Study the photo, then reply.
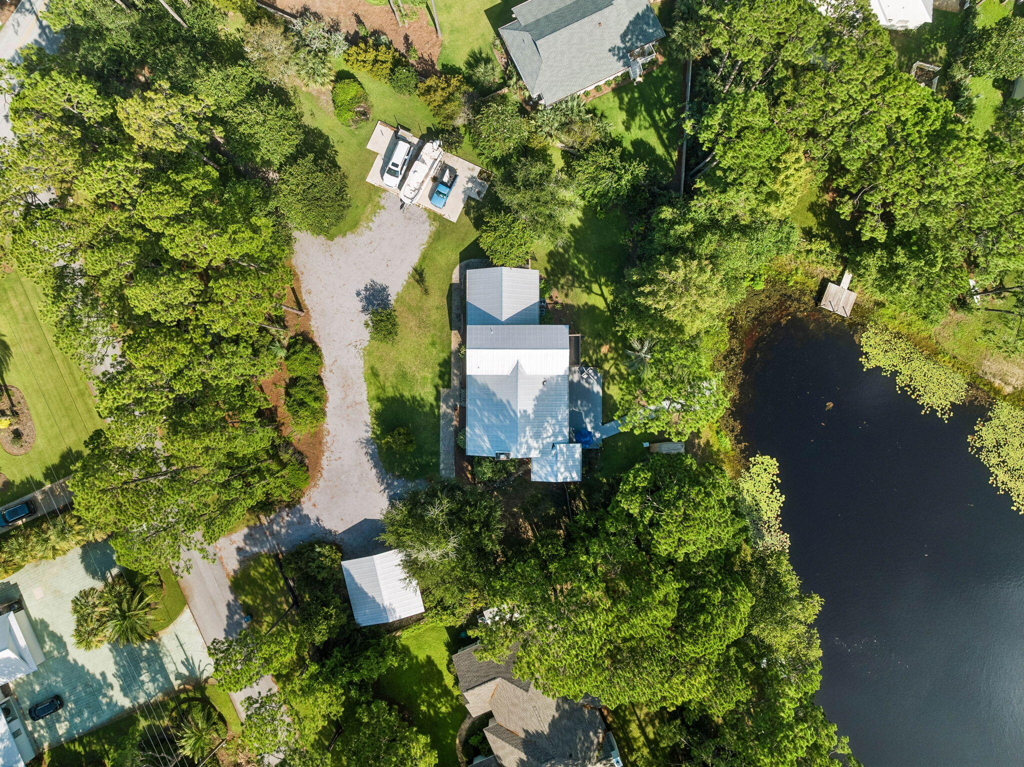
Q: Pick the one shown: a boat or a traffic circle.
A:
boat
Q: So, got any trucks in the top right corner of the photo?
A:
No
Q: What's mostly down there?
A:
trees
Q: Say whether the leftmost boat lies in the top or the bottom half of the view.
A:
top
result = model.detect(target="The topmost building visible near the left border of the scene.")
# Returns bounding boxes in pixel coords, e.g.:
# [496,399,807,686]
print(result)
[0,609,45,686]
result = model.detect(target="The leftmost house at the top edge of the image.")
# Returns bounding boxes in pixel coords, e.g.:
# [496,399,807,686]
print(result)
[498,0,666,107]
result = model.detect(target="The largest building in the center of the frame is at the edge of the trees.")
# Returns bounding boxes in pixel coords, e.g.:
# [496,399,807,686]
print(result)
[465,266,583,483]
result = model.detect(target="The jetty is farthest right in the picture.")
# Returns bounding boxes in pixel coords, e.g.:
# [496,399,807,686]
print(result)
[818,269,857,317]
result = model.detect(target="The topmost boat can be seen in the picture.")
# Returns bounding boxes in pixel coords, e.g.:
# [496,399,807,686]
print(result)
[401,137,443,204]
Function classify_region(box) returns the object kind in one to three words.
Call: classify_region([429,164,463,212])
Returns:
truck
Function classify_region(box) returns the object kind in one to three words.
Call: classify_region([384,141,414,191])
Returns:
car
